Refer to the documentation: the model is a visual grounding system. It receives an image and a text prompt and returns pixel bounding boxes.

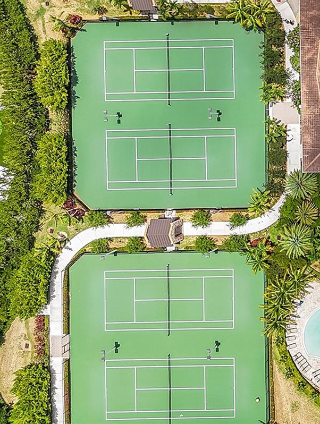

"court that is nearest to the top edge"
[72,21,266,115]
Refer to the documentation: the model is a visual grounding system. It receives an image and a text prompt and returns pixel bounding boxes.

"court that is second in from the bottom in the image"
[69,252,266,345]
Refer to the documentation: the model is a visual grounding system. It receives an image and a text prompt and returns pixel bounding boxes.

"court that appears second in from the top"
[73,113,267,210]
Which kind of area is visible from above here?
sports ground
